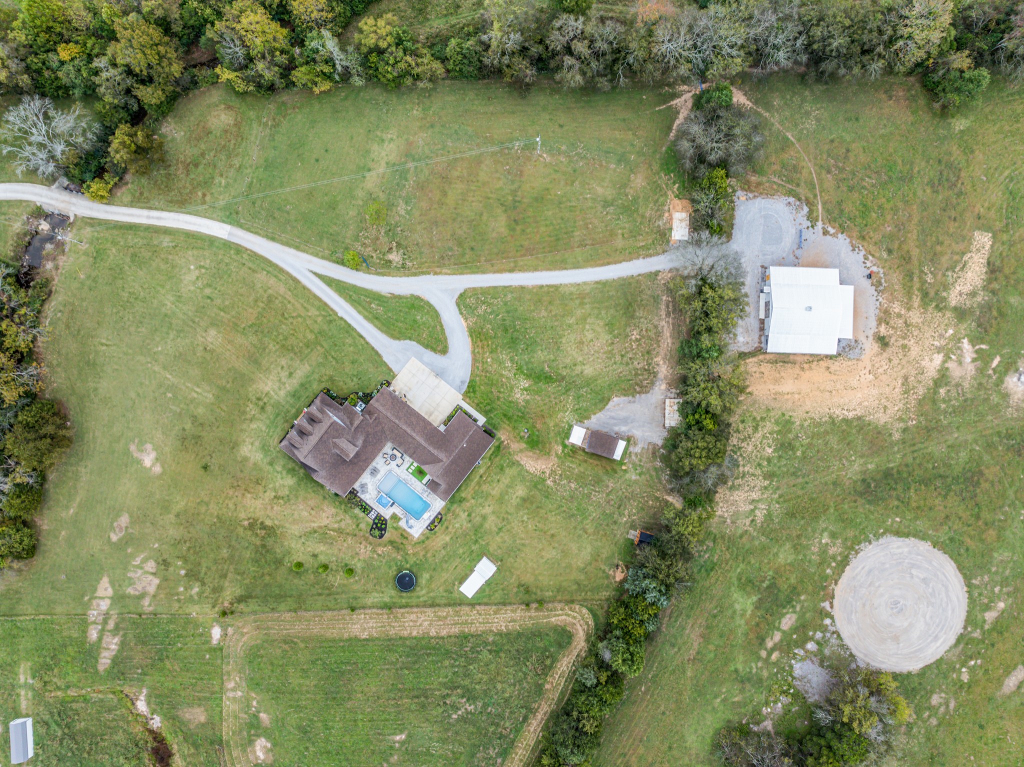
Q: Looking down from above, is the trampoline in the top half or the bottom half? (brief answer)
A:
bottom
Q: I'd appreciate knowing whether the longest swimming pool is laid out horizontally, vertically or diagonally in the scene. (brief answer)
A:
diagonally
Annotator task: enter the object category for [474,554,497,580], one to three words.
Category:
shed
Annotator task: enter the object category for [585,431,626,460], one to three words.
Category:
shed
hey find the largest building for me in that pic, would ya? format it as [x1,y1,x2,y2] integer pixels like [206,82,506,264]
[279,386,495,502]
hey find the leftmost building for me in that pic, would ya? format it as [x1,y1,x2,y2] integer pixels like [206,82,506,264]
[10,718,34,764]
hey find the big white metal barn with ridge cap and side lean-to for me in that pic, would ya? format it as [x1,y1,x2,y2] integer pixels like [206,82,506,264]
[767,267,854,354]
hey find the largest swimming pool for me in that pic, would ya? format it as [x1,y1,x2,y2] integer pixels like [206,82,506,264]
[376,470,432,522]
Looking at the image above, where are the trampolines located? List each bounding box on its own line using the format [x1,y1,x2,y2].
[395,572,416,593]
